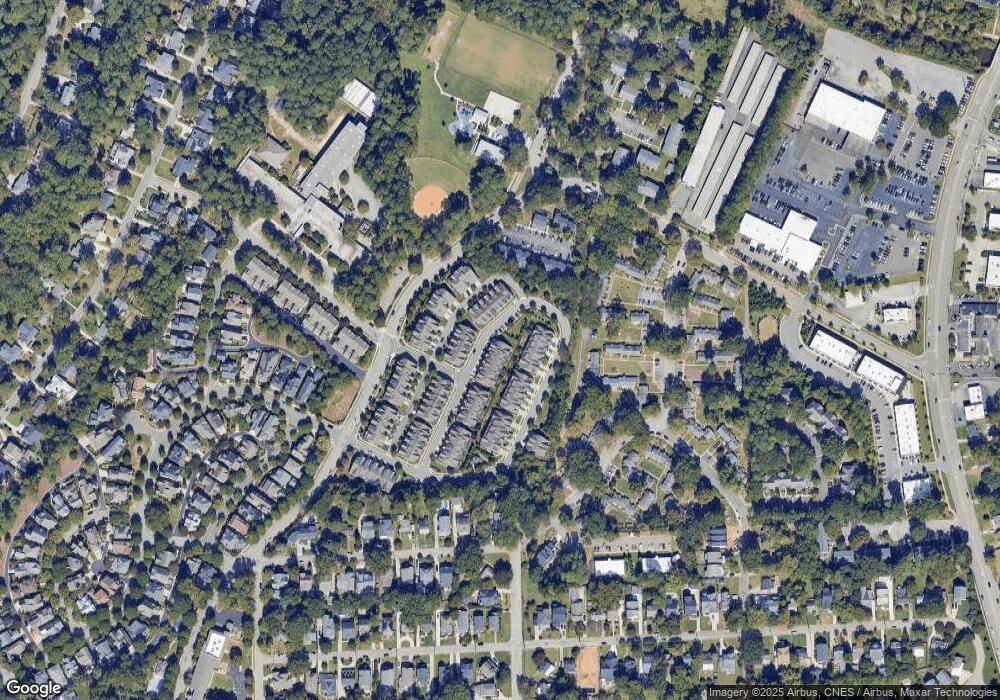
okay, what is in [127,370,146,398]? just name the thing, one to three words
house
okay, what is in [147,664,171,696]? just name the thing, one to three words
house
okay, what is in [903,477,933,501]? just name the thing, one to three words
building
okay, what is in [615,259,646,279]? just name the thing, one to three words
building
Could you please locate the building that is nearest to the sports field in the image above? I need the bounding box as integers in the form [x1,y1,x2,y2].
[484,92,521,123]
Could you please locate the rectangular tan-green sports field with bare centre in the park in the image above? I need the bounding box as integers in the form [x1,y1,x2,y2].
[446,14,556,102]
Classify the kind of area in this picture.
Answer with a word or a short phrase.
residential area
